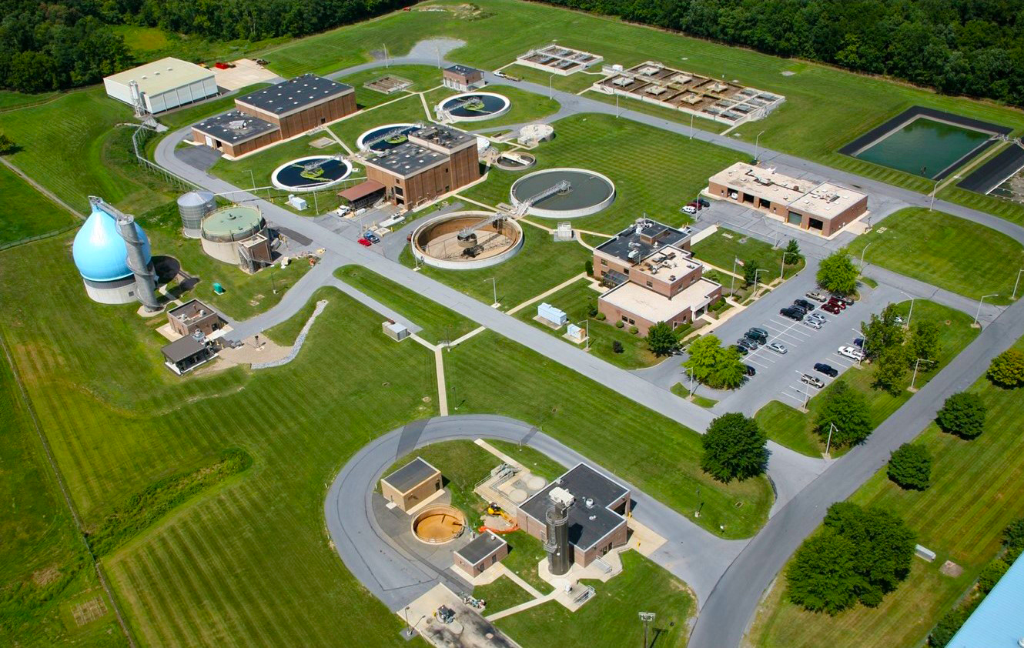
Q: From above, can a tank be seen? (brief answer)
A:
Yes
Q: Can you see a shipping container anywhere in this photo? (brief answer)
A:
Yes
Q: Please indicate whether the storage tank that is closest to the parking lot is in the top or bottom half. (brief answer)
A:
top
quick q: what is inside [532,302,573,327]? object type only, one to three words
shipping container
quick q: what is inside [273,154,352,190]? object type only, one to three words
storage tank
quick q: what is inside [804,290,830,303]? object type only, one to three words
vehicle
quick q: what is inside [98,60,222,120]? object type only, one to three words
building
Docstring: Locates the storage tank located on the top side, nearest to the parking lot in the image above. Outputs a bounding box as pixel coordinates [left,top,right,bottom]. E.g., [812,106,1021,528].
[512,169,613,218]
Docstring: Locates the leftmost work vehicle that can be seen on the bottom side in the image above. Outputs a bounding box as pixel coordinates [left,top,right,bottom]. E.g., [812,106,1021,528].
[485,498,515,520]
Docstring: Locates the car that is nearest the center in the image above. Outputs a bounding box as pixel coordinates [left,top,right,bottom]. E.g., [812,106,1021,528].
[401,231,414,243]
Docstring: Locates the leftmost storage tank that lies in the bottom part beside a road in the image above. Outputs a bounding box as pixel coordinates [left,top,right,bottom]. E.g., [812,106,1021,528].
[411,499,466,547]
